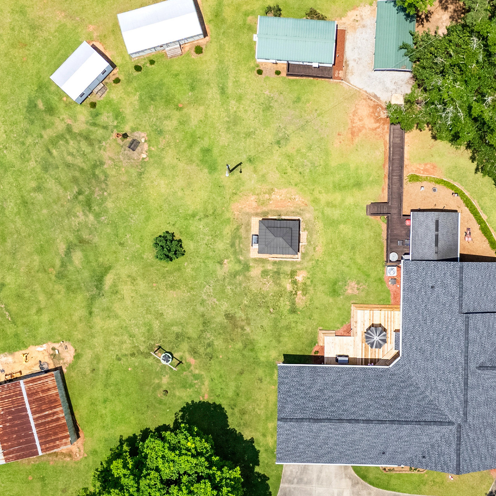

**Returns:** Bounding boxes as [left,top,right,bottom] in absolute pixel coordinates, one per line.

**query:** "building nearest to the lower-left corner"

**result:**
[0,367,84,462]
